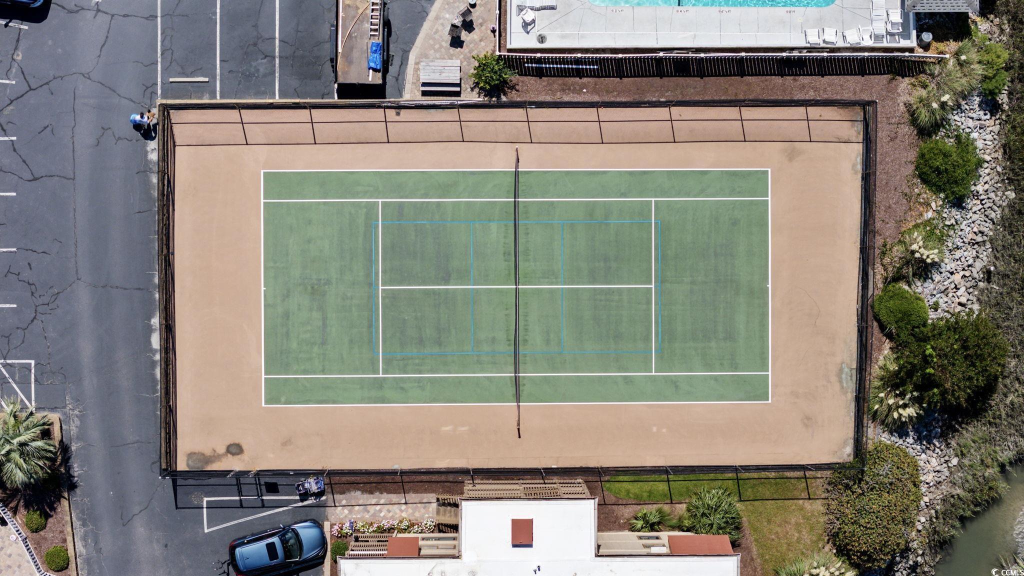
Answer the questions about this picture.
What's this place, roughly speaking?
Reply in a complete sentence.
This looks like a sports ground.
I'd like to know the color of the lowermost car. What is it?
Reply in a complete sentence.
The lowermost car is blue.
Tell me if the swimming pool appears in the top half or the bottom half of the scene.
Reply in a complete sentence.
The swimming pool is in the top half of the image.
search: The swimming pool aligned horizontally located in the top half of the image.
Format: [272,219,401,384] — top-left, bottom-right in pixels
[507,0,917,48]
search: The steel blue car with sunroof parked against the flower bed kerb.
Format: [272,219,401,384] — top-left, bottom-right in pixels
[217,517,328,576]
